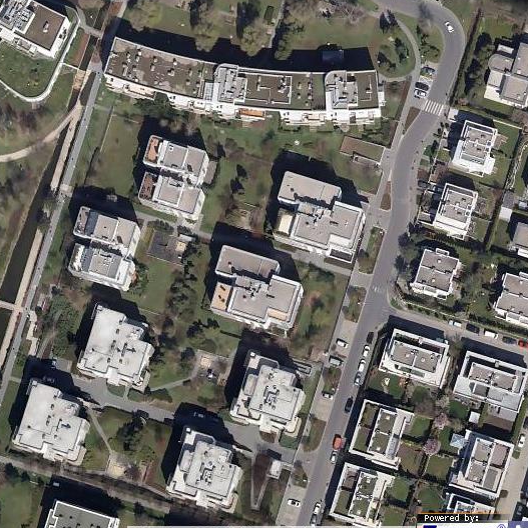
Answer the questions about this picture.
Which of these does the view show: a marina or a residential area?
residential area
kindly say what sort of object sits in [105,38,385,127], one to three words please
building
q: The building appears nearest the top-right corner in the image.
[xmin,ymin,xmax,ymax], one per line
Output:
[483,43,528,110]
